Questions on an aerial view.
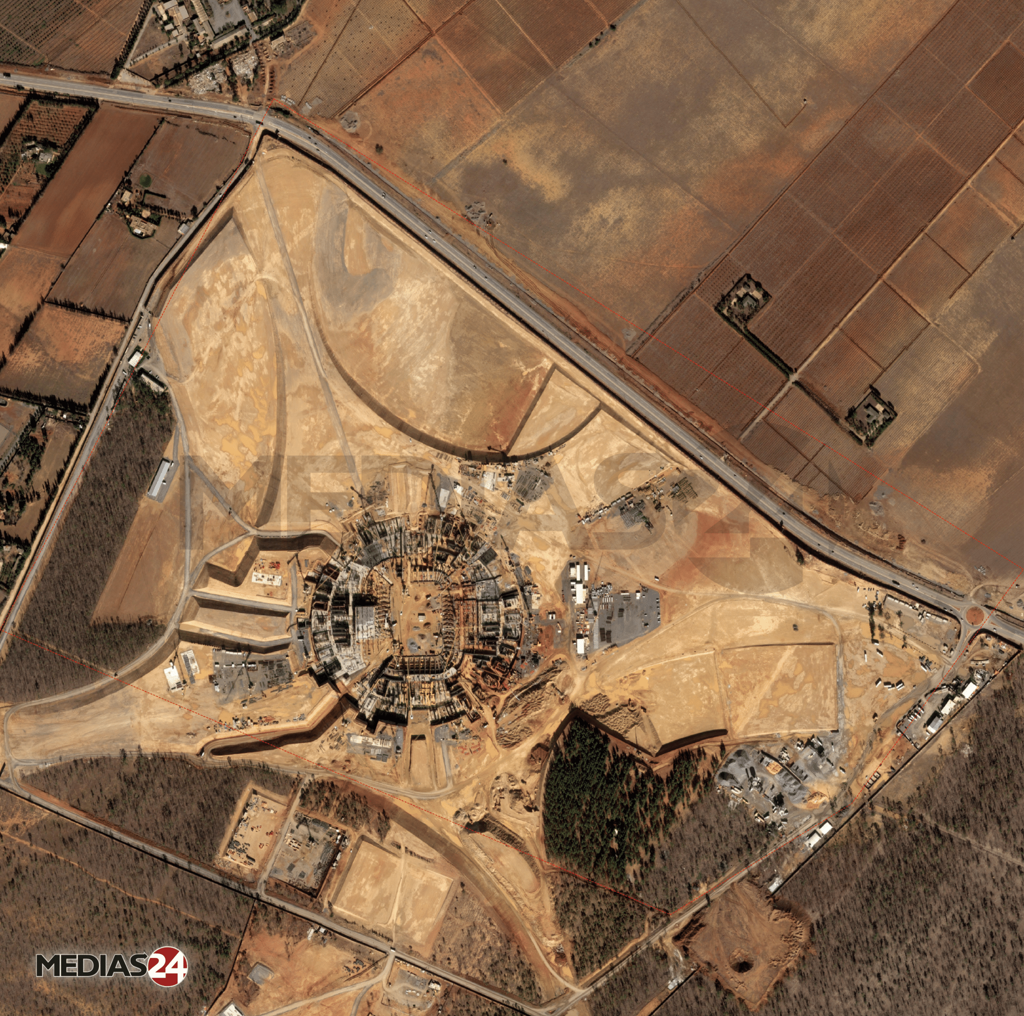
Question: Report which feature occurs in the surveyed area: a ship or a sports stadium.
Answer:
sports stadium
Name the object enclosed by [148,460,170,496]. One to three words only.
building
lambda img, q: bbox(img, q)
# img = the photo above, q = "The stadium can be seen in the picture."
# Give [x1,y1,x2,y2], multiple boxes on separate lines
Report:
[314,510,526,729]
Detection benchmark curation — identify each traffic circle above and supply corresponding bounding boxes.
[952,601,999,635]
